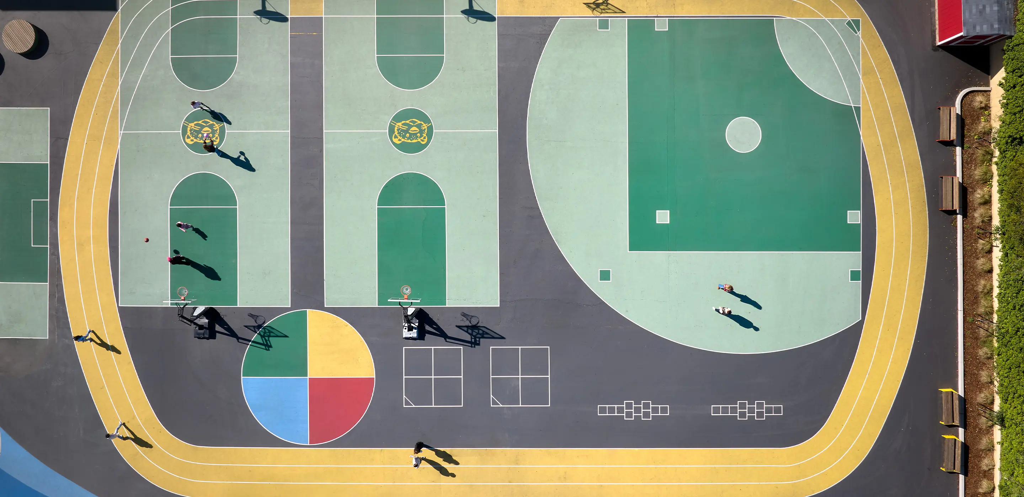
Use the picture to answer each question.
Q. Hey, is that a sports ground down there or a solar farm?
sports ground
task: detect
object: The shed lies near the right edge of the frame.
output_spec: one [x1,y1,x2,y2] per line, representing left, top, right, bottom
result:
[936,0,1017,45]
